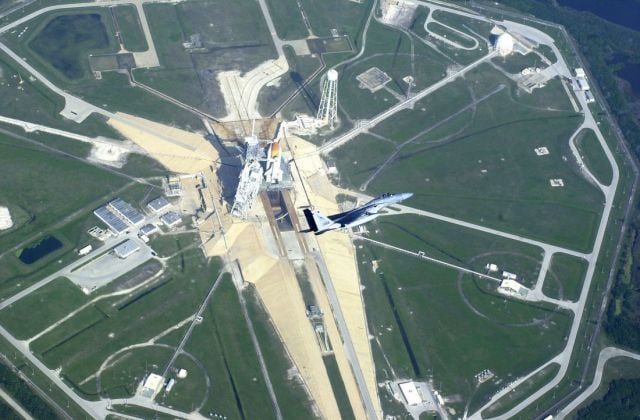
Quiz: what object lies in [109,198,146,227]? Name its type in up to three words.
building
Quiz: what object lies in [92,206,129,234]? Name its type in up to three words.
building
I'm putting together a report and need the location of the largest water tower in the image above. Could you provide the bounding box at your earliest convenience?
[316,68,340,129]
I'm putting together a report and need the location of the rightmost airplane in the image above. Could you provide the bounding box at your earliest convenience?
[302,195,411,234]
